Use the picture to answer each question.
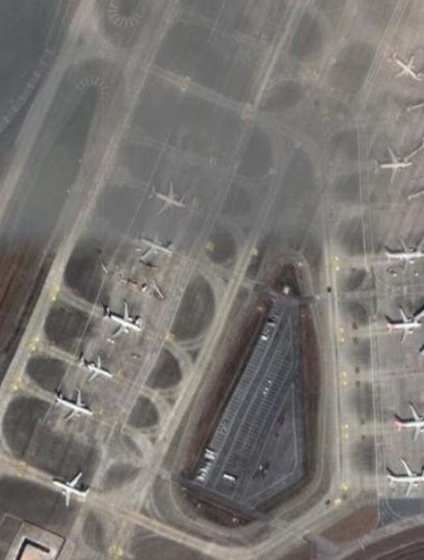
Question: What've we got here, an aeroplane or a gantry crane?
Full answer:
Of the two, only an aeroplane appears.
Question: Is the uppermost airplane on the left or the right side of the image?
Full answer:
It is on the right.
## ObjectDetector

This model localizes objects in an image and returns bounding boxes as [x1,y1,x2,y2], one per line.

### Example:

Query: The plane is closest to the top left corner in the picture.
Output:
[148,181,185,214]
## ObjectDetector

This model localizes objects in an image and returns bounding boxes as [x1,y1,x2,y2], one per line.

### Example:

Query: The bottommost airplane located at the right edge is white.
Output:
[388,458,424,495]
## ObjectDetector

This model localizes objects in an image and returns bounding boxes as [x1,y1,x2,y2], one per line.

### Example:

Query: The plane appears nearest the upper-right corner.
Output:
[391,52,419,80]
